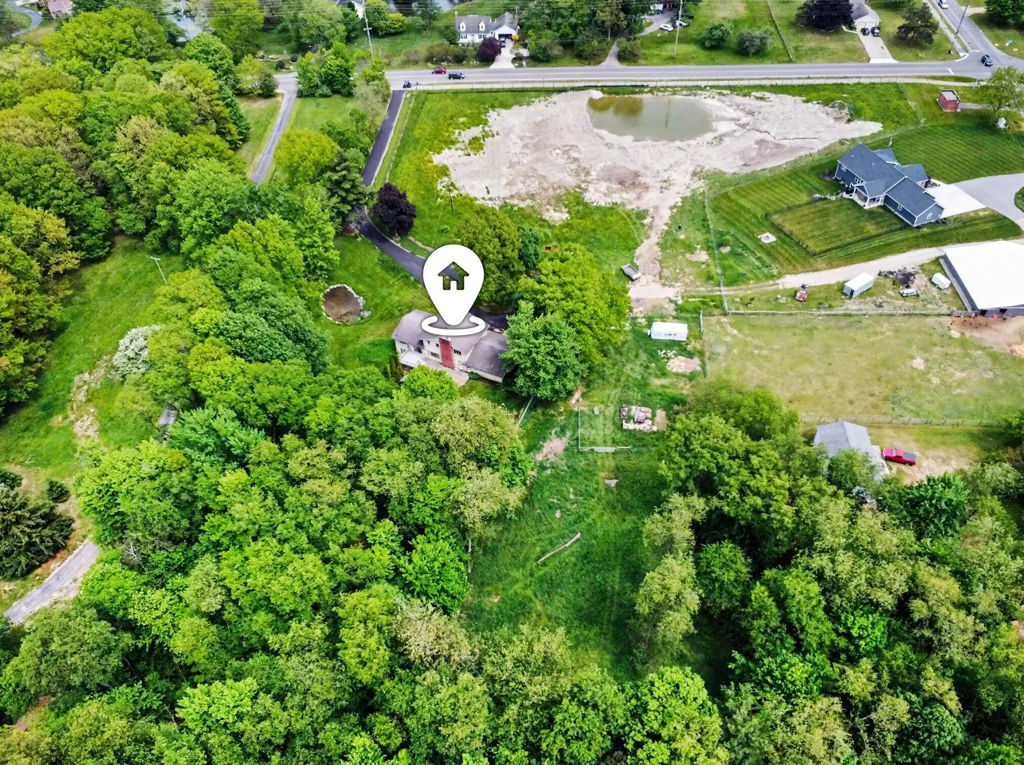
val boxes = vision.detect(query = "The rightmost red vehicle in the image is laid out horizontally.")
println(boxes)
[884,452,919,468]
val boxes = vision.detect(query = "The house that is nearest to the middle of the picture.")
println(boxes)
[390,298,519,386]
